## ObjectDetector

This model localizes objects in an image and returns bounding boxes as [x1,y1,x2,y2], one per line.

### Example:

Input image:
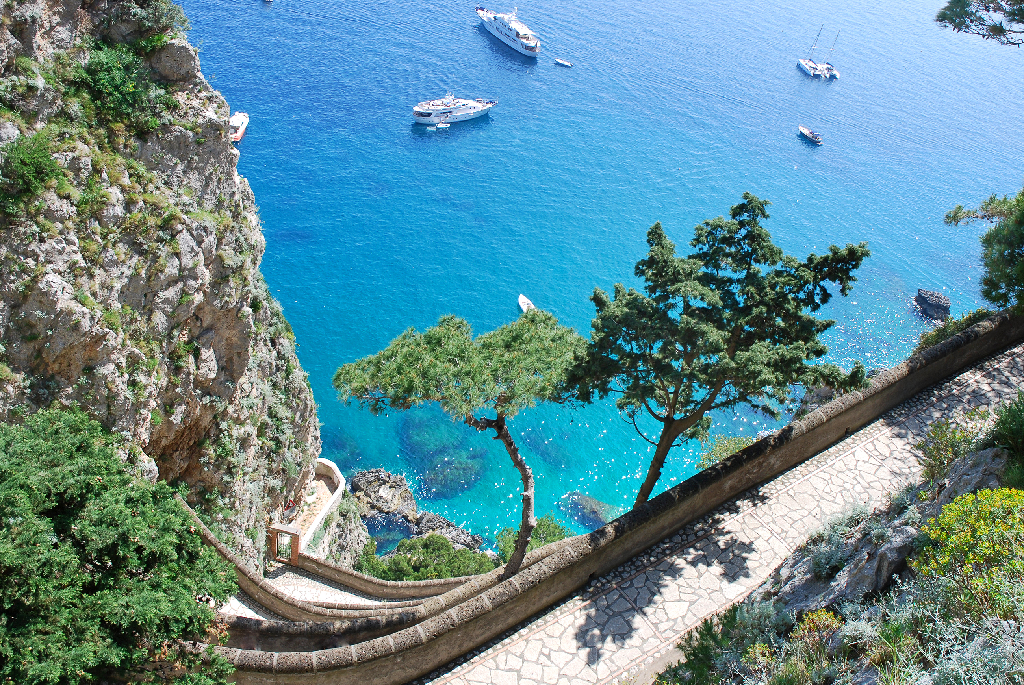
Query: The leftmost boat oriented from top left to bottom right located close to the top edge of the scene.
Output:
[479,3,543,57]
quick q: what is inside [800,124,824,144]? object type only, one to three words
boat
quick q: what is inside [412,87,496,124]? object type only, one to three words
boat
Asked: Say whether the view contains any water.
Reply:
Yes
